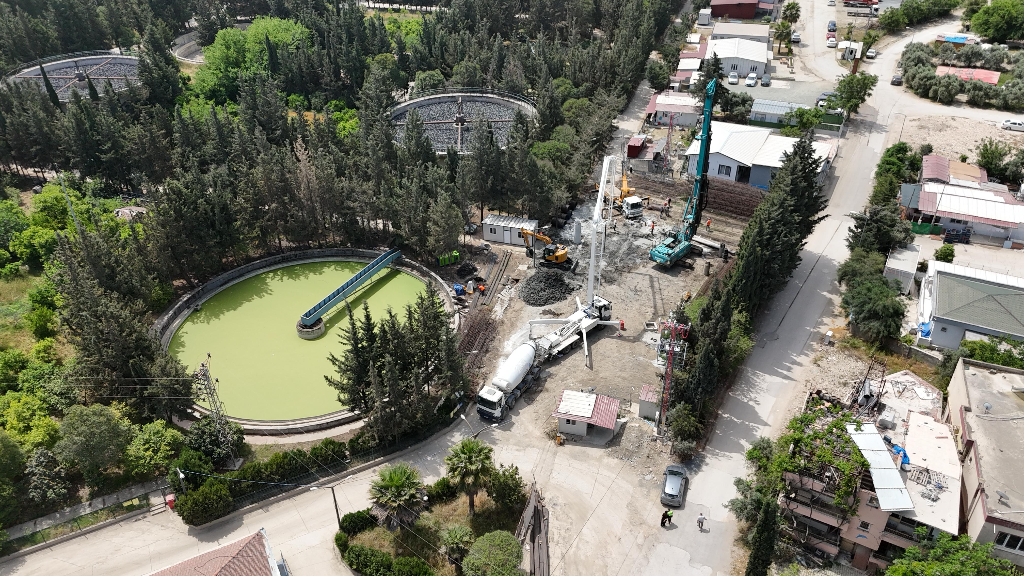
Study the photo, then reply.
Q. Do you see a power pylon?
Yes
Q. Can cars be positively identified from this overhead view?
Yes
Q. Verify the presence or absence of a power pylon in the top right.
No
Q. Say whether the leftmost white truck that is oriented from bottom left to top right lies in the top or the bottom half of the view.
bottom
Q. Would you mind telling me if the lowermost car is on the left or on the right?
right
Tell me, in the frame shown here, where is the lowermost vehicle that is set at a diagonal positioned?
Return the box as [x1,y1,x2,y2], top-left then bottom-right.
[471,331,547,423]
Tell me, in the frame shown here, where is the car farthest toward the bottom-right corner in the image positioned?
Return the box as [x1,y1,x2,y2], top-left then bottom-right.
[663,461,692,509]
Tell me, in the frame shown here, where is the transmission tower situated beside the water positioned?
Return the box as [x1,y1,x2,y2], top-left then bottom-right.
[187,347,252,473]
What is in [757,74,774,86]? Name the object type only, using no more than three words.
vehicle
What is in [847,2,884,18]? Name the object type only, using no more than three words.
vehicle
